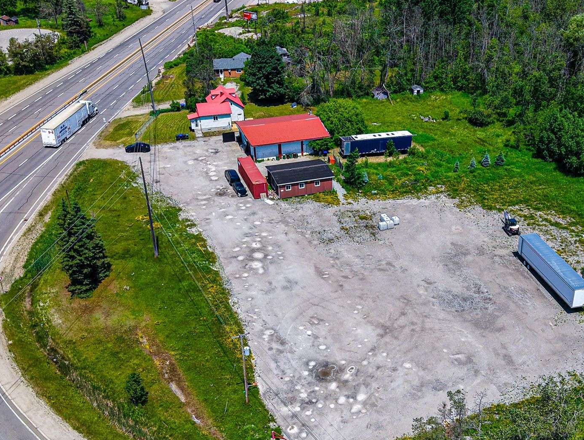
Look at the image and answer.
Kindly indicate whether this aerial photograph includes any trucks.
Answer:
Yes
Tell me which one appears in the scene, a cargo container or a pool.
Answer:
cargo container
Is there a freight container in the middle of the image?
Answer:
Yes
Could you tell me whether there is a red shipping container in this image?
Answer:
Yes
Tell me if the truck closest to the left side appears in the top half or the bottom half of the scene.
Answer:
top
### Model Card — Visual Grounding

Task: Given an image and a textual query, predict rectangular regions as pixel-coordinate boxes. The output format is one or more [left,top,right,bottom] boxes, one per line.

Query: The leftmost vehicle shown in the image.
[40,99,99,145]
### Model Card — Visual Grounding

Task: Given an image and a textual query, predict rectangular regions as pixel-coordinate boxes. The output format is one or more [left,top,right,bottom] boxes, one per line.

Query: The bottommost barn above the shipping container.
[239,113,331,162]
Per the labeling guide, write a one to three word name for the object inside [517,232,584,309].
trailer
